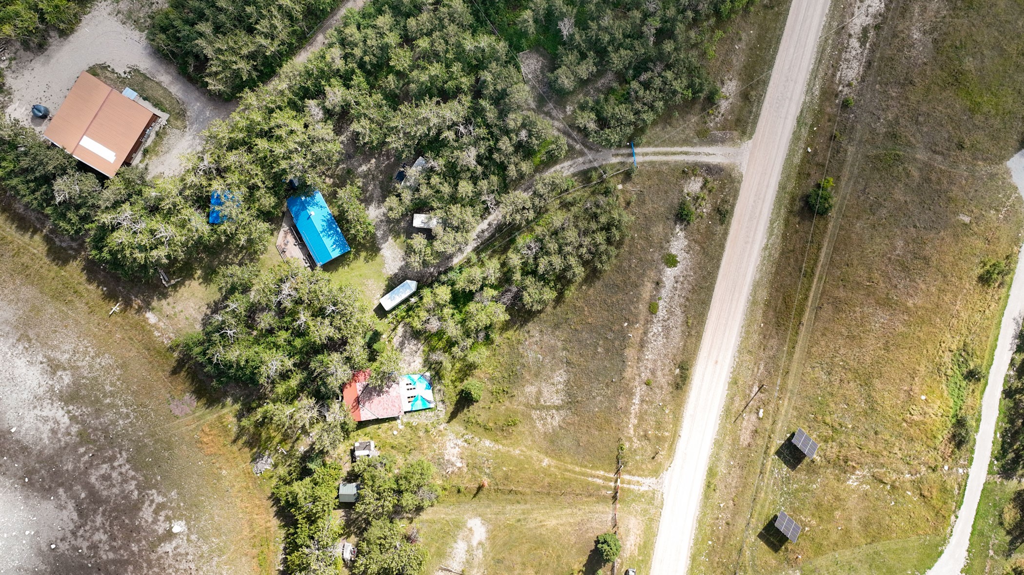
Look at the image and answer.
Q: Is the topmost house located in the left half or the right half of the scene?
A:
left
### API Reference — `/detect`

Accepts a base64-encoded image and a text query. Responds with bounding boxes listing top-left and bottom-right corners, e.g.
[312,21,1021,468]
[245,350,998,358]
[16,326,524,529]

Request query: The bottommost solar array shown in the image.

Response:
[774,511,801,543]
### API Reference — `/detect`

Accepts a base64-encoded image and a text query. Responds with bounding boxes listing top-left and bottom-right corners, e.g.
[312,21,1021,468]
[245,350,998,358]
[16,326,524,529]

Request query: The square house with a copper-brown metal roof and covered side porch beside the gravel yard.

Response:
[44,70,161,171]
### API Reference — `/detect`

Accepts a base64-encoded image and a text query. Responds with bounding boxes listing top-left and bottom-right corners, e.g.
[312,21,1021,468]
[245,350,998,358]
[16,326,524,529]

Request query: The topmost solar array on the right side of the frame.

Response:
[792,428,819,459]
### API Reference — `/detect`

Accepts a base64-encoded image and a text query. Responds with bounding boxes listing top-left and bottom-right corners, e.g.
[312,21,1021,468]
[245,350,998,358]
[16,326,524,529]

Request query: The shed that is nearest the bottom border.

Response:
[339,481,361,502]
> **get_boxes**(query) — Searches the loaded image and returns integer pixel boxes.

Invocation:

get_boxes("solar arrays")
[792,428,819,459]
[774,511,801,543]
